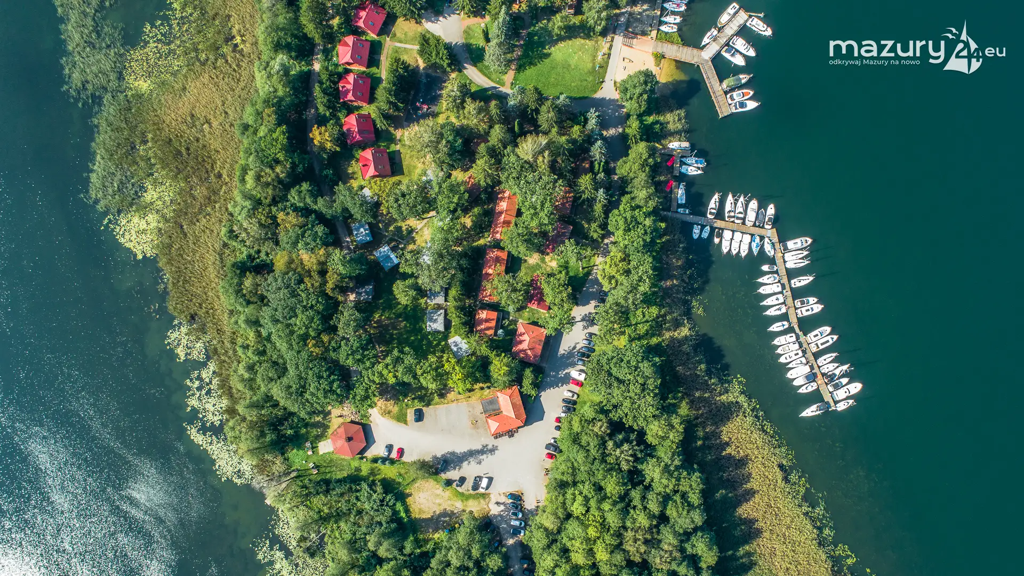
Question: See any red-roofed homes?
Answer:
Yes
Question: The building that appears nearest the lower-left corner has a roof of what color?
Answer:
red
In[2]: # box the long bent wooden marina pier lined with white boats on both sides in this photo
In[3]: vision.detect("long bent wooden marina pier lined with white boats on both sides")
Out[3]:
[657,181,836,412]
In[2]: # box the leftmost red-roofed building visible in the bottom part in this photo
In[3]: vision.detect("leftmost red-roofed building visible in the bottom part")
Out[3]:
[330,422,367,457]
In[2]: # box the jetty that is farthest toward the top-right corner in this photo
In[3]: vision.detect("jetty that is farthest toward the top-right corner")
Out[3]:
[652,7,764,118]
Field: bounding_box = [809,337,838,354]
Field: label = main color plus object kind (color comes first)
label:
white boat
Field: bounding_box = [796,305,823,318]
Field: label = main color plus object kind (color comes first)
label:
white boat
